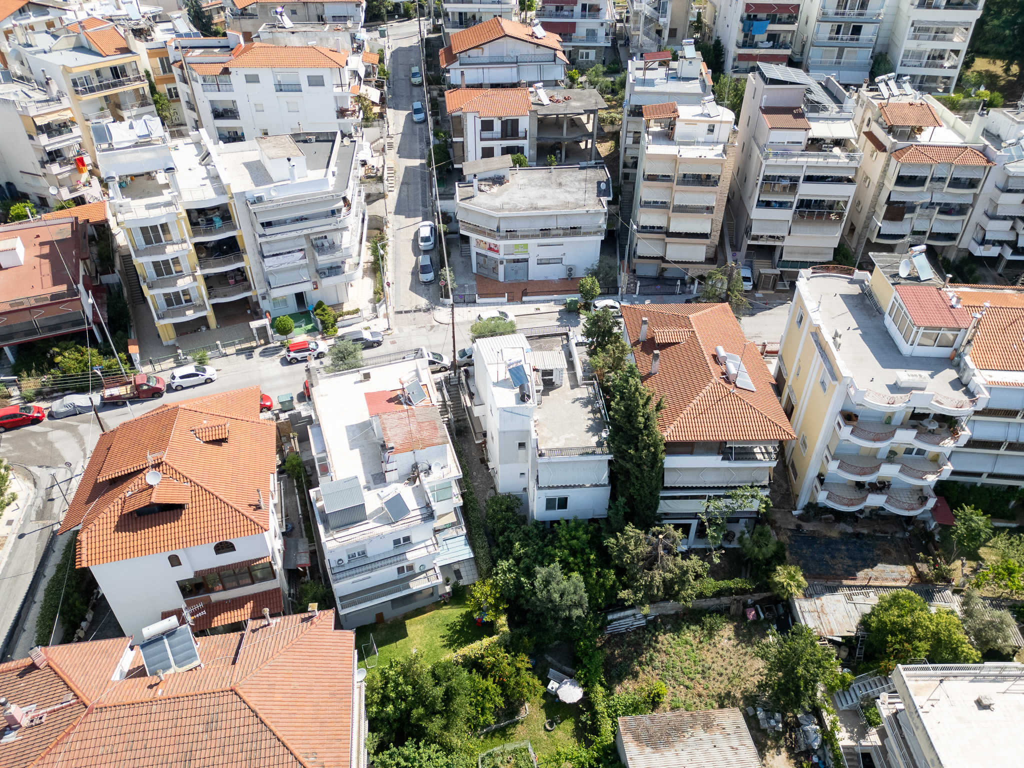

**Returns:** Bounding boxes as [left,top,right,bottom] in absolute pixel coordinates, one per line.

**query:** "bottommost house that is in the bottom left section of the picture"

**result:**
[0,606,368,768]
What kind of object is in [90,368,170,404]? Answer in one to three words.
truck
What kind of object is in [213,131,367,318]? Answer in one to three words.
building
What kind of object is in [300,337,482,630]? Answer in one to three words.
house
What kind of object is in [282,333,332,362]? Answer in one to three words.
car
